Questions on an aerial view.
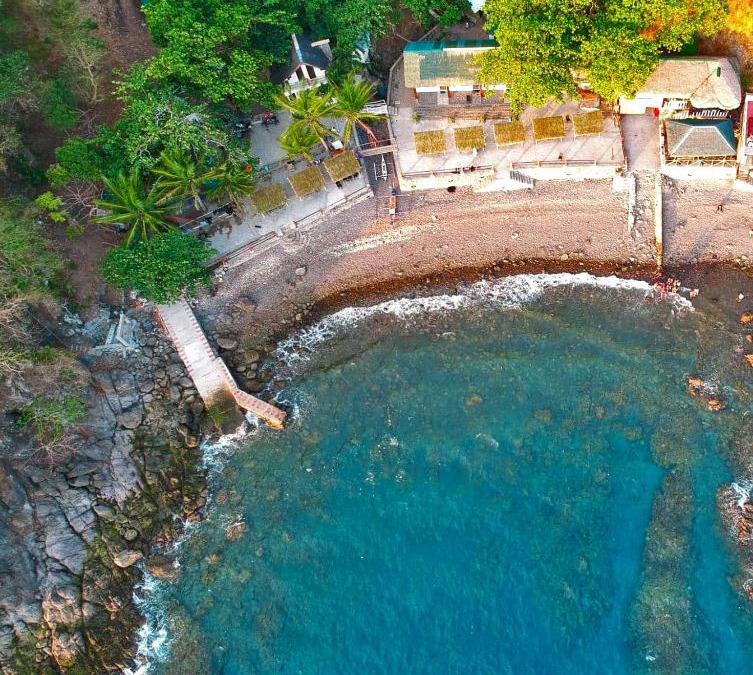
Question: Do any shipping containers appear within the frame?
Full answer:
No, the picture doesn't show any shipping container.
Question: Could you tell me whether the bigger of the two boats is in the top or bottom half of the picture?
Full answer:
You can find the bigger of the two boats in the top half.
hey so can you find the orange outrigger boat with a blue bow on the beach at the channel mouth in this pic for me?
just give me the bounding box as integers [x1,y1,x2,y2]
[379,182,410,220]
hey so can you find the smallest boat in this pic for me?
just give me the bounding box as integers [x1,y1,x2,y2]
[374,155,392,182]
